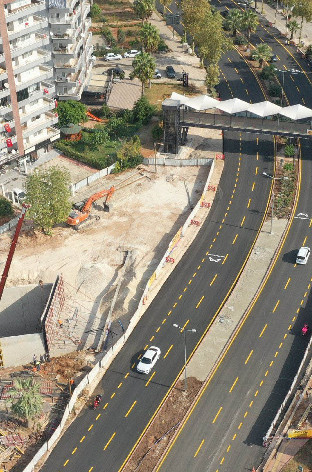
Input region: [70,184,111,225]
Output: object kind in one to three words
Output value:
work vehicle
